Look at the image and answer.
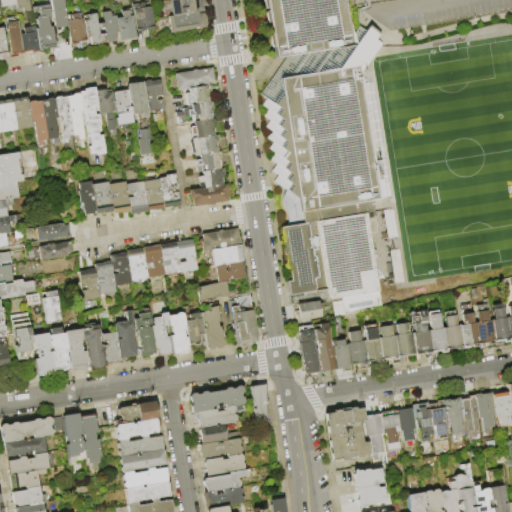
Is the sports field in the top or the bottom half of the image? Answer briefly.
top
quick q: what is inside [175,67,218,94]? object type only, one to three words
house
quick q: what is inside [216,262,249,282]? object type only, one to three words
building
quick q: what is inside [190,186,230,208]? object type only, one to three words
building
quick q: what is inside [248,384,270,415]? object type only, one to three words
house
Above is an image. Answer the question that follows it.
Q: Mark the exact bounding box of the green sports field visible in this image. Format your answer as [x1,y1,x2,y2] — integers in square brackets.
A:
[375,34,512,282]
